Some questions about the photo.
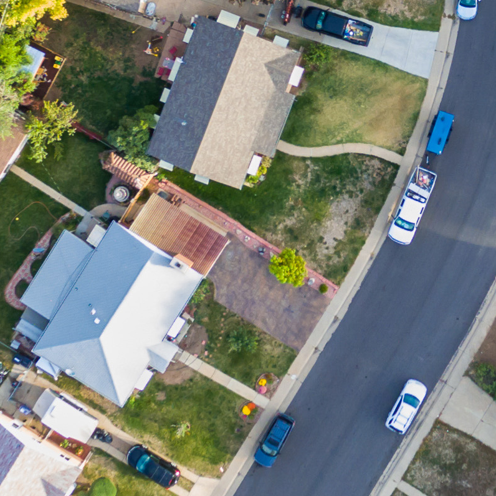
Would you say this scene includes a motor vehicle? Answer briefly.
Yes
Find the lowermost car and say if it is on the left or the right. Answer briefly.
left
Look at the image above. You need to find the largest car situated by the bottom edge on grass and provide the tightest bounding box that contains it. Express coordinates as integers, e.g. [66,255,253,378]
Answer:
[125,445,183,492]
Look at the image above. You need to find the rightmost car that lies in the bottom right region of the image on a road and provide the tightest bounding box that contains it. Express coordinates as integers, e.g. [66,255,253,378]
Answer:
[385,372,425,436]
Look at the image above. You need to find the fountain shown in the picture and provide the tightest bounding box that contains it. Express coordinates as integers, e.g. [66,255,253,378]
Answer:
[115,186,130,202]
